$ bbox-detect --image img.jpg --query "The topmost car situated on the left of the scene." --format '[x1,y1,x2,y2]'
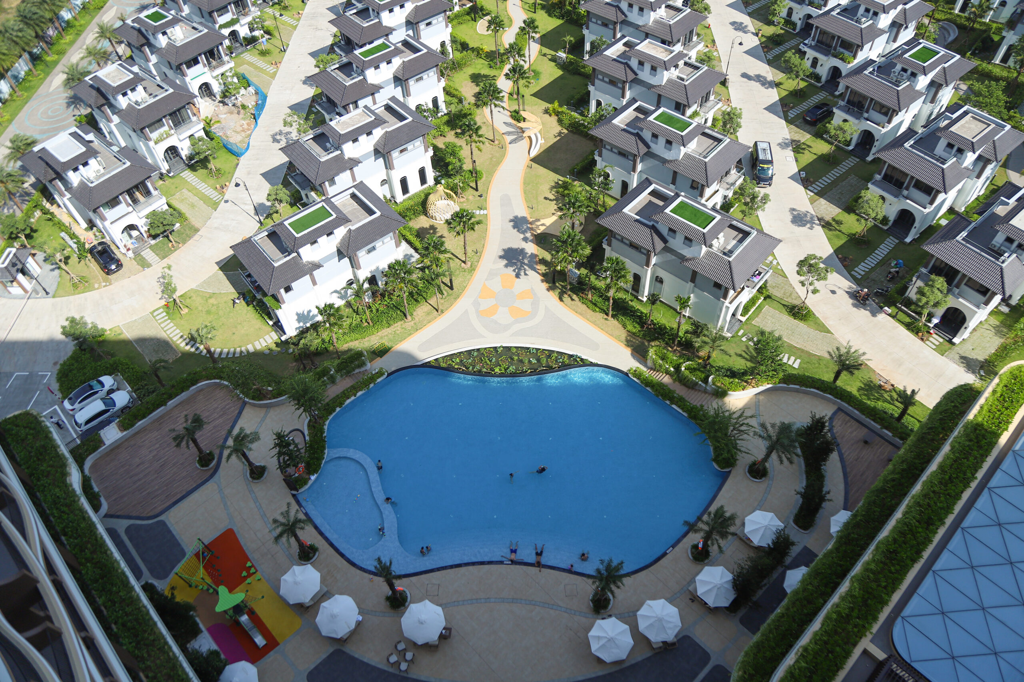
[84,241,120,275]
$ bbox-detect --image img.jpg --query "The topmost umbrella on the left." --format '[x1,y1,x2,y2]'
[277,565,320,606]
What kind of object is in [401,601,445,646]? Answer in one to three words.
umbrella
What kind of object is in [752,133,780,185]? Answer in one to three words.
van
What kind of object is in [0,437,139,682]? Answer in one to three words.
building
